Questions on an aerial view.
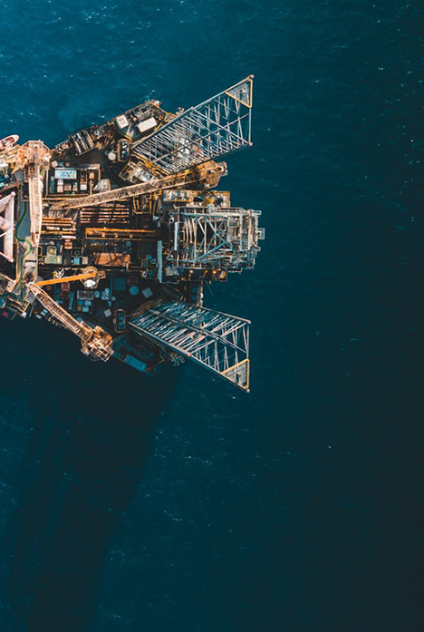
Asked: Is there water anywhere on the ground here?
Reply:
Yes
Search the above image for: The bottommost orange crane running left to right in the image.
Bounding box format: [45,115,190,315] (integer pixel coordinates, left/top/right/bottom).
[34,268,97,287]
